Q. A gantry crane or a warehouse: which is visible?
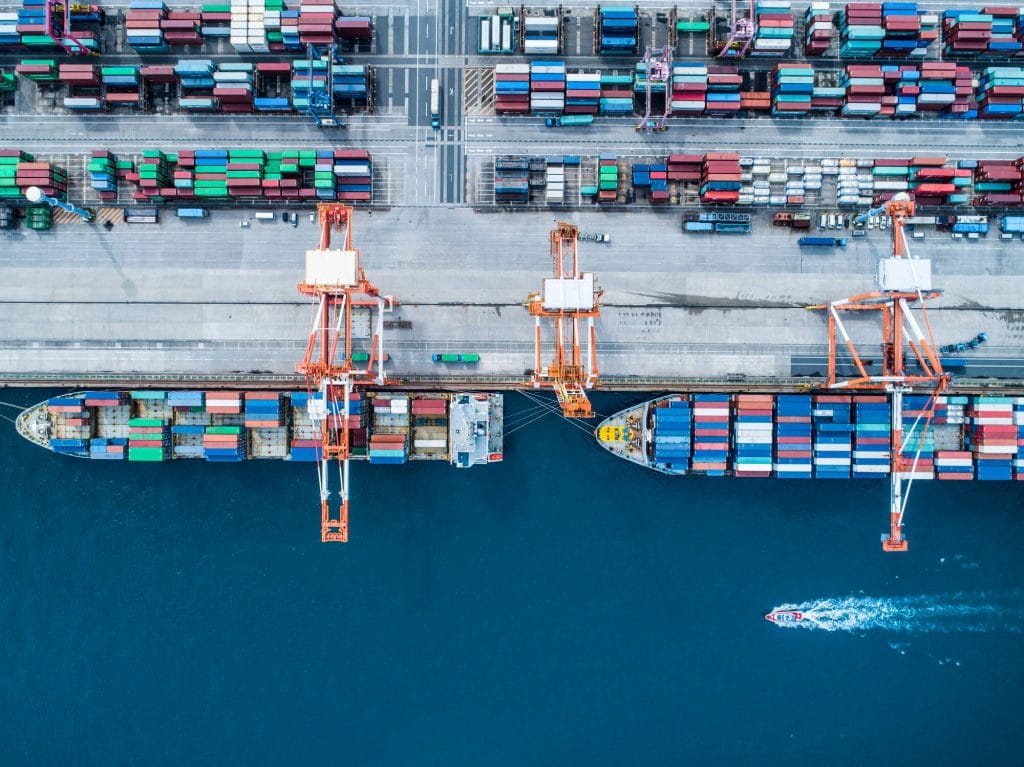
gantry crane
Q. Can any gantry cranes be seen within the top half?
Yes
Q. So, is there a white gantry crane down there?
Yes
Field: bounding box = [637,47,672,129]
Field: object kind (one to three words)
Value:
container crane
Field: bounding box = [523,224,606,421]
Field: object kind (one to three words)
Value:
container crane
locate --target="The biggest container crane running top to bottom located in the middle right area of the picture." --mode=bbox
[812,202,953,550]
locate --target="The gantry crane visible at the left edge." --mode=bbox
[44,0,95,54]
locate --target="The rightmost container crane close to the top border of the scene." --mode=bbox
[717,0,756,58]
